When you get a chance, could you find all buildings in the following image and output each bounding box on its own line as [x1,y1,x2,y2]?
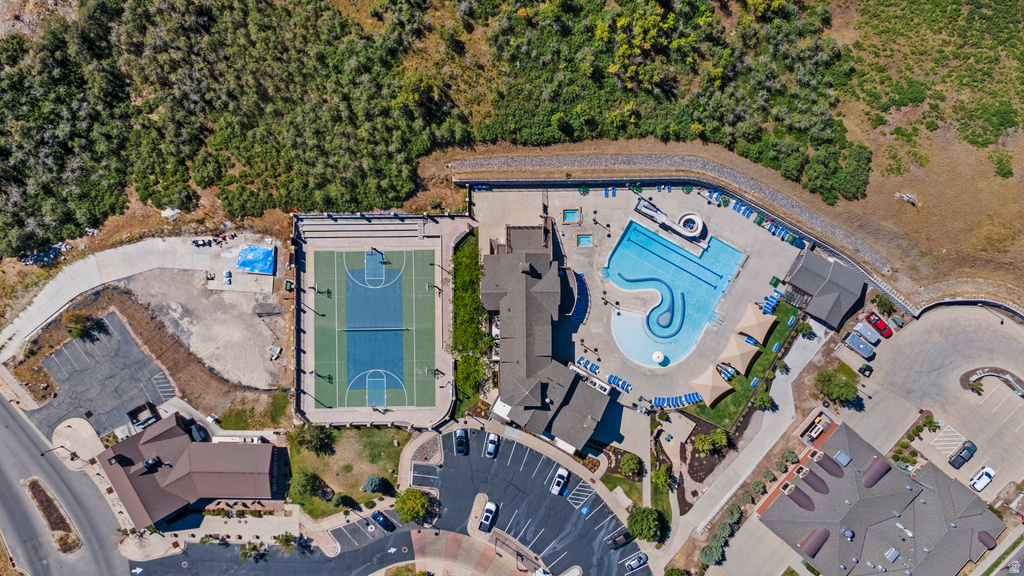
[97,413,275,530]
[785,238,864,327]
[539,380,610,455]
[481,216,576,433]
[760,422,1007,576]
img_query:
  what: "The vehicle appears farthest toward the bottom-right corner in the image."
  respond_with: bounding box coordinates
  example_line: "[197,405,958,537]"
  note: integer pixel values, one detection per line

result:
[968,466,993,492]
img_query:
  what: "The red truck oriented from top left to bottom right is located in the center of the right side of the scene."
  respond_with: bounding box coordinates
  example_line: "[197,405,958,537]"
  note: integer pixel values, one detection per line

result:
[864,310,892,339]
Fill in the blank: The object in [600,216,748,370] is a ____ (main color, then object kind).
blue swimming pool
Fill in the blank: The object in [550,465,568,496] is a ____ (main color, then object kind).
white vehicle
